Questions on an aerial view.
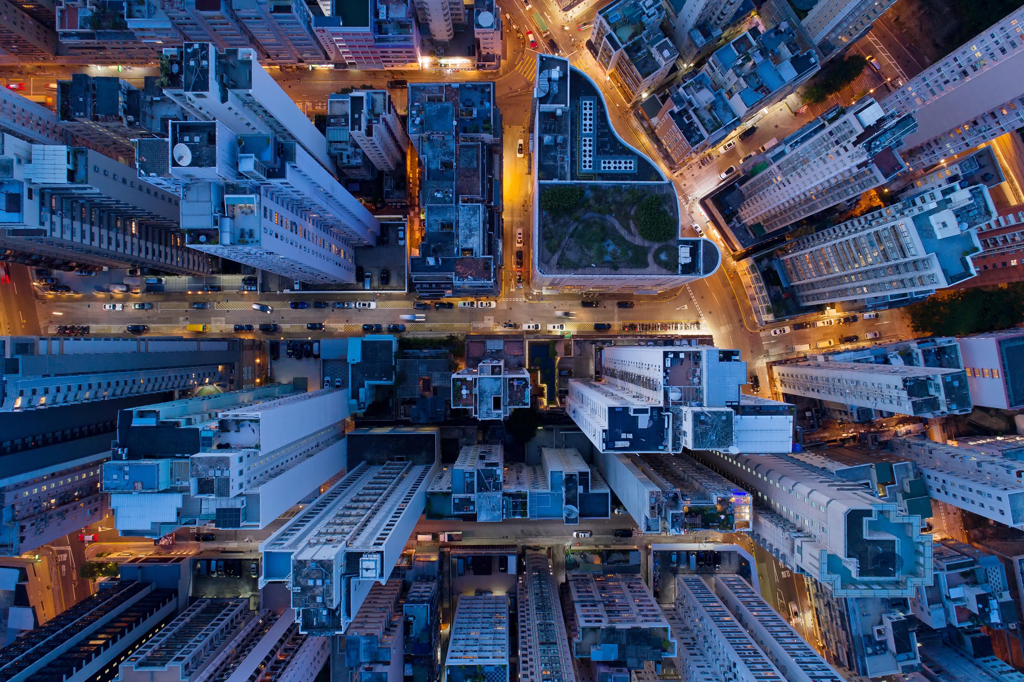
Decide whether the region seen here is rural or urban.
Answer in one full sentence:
From above, the setting appears urban.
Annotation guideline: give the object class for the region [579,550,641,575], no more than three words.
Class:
shed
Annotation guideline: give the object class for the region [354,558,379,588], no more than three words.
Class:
water tank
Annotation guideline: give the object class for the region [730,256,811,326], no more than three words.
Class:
building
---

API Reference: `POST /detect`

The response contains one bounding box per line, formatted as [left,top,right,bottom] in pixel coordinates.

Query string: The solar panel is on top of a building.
[215,508,240,528]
